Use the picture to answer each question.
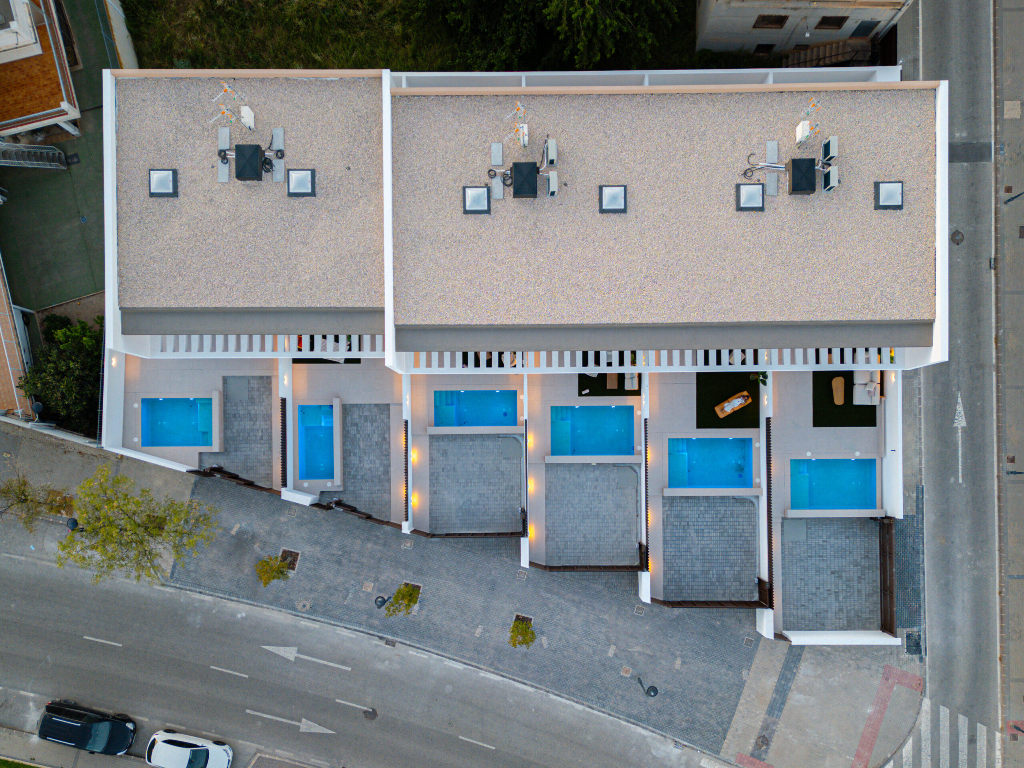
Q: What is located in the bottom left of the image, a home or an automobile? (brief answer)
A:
automobile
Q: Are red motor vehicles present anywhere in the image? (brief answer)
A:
No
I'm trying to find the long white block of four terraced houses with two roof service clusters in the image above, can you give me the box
[382,69,948,377]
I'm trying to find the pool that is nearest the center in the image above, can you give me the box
[427,390,524,434]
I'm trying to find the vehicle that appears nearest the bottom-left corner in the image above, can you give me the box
[33,695,139,757]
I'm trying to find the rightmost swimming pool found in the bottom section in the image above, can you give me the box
[786,451,885,517]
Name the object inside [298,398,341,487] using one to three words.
swimming pool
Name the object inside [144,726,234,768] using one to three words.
car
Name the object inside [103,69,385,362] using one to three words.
house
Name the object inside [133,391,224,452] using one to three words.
swimming pool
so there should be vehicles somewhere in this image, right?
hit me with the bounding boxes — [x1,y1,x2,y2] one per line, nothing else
[144,726,234,768]
[16,307,41,370]
[33,695,139,757]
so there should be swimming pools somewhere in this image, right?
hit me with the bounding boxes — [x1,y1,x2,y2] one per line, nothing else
[662,438,760,496]
[545,406,641,463]
[298,398,341,487]
[133,391,224,452]
[786,451,885,517]
[427,390,524,434]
